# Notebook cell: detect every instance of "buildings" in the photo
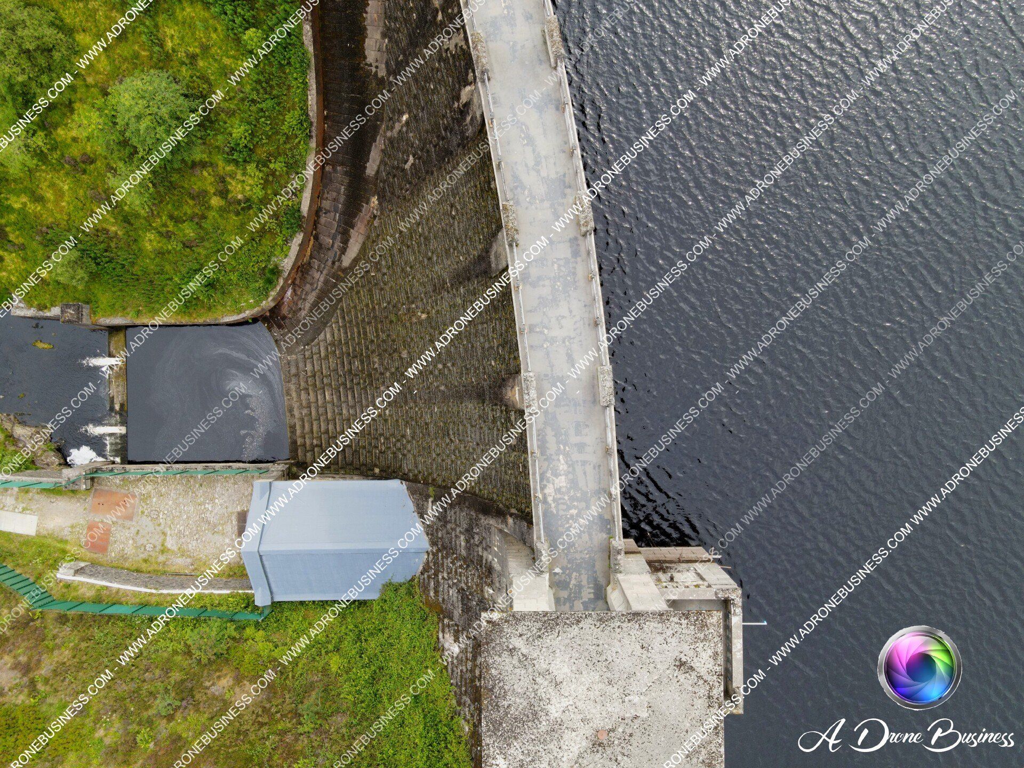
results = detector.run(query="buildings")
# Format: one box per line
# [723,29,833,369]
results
[482,537,744,768]
[239,474,429,606]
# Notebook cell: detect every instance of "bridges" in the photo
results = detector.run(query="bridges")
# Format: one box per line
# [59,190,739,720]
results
[460,0,648,610]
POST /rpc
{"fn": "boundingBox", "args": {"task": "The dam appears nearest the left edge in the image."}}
[110,325,130,461]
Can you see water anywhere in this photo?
Yes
